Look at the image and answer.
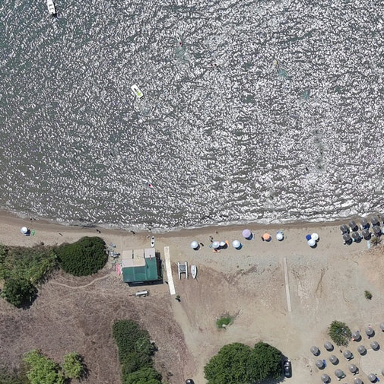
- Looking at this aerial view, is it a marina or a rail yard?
marina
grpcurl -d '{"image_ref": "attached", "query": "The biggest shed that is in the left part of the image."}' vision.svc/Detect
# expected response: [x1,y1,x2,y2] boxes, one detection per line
[122,248,159,282]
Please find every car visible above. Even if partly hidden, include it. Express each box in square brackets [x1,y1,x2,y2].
[284,360,292,378]
[185,377,195,384]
